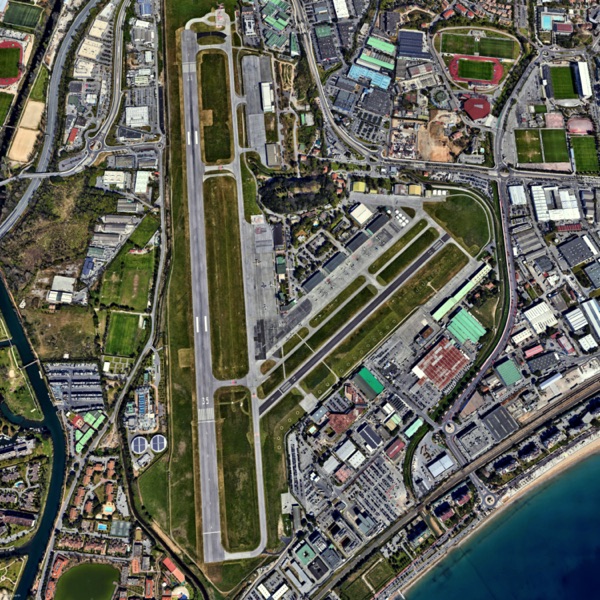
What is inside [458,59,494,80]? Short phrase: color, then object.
green soccer field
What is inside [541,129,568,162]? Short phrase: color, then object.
green soccer field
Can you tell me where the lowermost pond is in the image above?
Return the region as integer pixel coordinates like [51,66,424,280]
[56,562,120,600]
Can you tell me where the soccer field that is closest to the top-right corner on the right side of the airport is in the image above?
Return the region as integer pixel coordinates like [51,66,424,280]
[550,66,578,99]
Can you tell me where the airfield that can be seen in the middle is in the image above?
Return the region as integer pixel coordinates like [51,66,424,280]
[140,0,494,593]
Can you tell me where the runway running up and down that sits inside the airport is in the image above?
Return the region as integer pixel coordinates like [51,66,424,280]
[181,30,220,562]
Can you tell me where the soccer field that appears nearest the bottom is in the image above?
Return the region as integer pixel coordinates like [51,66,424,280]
[106,312,139,356]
